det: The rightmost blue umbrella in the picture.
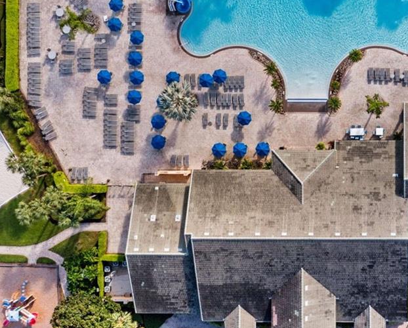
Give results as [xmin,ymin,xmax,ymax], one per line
[256,141,271,157]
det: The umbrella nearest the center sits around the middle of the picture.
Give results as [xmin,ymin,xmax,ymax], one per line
[212,142,227,157]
